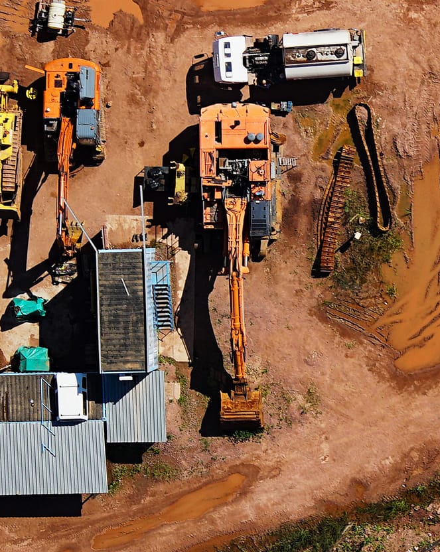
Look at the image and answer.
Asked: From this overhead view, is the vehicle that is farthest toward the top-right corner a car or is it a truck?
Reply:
truck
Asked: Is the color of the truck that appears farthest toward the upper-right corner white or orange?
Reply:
white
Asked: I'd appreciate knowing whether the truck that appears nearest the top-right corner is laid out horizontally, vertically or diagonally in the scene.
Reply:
horizontally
